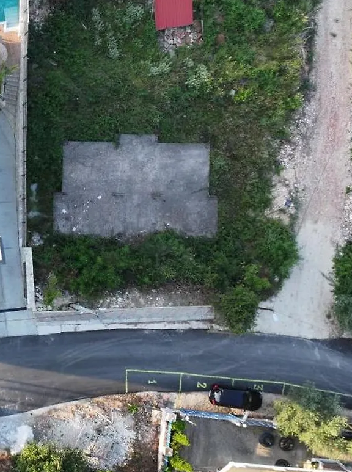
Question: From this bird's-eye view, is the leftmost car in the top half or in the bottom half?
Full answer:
The bottom half of the photo is where the leftmost car is.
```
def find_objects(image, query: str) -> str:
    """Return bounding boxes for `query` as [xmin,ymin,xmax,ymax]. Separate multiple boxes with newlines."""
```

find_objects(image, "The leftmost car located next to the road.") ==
[208,384,261,415]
